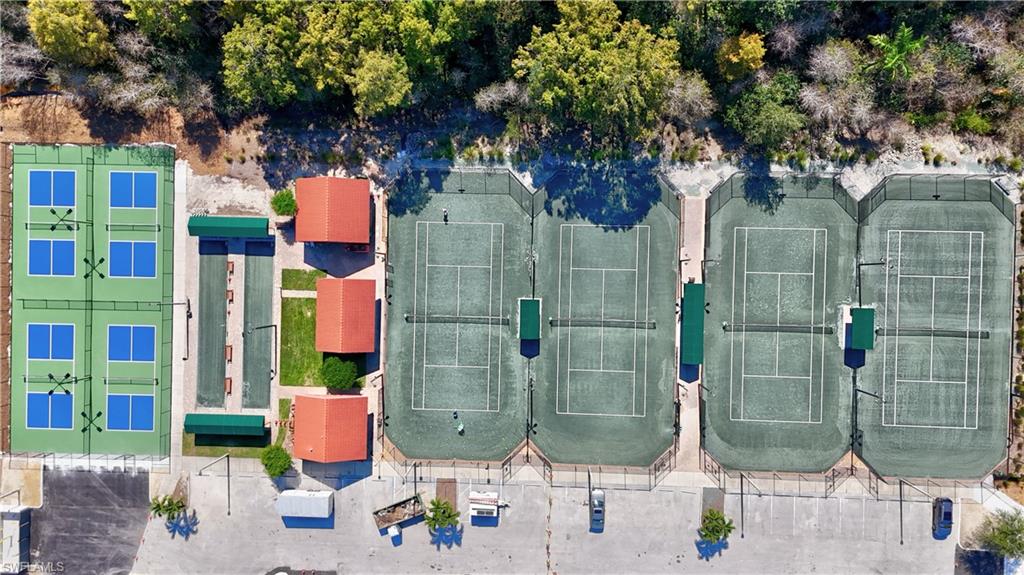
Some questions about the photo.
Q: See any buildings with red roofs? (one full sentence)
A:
Yes, there's a building with a red roof down there.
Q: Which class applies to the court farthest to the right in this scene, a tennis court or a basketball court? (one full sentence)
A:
I'd identify the court farthest to the right as a tennis court.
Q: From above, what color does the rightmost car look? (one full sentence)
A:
The color of the rightmost car is blue.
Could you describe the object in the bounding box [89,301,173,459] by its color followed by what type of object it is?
green sports court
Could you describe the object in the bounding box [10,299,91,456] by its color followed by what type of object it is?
green sports court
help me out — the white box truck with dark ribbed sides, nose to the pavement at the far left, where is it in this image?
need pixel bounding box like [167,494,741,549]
[1,510,30,575]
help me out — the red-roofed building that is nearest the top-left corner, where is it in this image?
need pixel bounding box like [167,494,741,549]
[296,174,372,243]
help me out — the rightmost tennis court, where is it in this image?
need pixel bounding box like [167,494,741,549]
[852,176,1016,480]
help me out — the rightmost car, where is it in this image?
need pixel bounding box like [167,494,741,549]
[932,497,955,537]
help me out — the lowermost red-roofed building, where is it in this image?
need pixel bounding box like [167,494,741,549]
[295,394,369,463]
